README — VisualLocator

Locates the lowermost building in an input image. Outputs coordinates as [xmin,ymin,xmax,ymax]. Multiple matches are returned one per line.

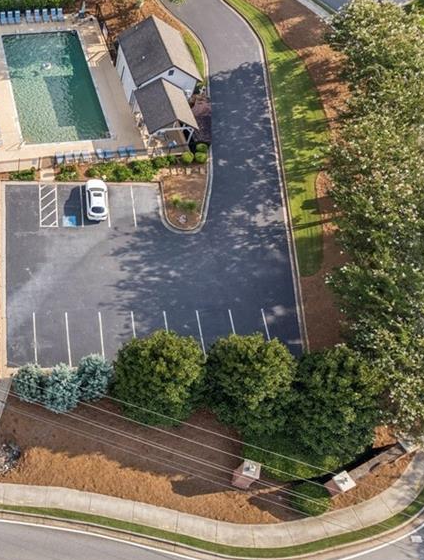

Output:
[135,74,199,146]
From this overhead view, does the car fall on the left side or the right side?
left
